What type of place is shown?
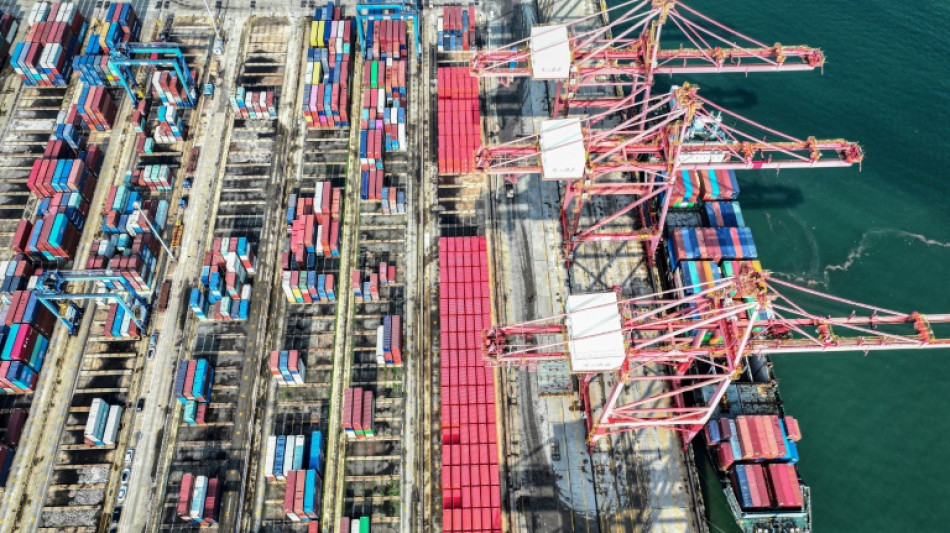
port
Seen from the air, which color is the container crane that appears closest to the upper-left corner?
blue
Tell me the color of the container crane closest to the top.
blue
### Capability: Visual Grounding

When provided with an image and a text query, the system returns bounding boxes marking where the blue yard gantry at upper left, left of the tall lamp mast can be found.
[107,43,198,110]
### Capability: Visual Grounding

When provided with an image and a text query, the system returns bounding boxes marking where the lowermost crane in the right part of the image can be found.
[486,271,950,449]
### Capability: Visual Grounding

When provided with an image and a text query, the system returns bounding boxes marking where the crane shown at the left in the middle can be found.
[31,270,151,339]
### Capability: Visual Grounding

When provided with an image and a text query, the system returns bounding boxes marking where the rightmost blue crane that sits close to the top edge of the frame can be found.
[354,0,419,65]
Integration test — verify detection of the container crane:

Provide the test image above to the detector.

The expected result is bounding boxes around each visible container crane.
[476,77,873,264]
[107,43,198,110]
[354,0,419,65]
[470,0,832,169]
[31,270,151,339]
[486,271,950,449]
